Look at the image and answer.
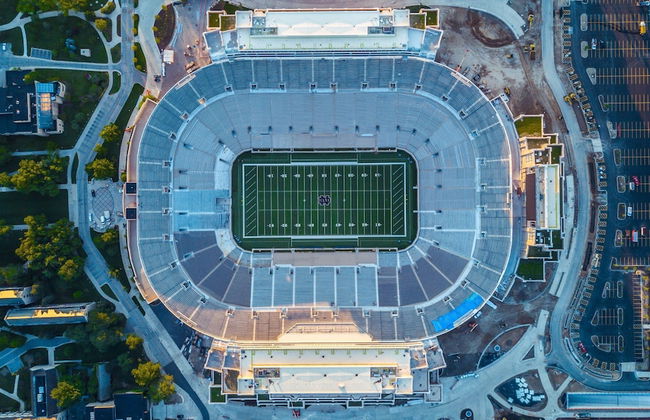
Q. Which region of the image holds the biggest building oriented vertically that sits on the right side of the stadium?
right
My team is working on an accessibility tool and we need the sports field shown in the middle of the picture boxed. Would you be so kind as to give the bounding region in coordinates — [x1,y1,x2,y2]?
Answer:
[233,151,416,250]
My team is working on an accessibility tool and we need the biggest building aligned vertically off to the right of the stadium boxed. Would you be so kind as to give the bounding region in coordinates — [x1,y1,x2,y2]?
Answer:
[512,115,566,282]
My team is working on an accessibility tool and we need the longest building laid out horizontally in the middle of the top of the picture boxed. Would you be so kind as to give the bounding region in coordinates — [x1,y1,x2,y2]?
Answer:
[204,8,442,64]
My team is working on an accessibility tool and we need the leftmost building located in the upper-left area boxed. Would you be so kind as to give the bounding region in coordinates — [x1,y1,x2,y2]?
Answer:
[0,71,43,133]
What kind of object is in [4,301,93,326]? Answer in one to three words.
building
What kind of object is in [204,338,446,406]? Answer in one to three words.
building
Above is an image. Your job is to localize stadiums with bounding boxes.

[135,56,514,343]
